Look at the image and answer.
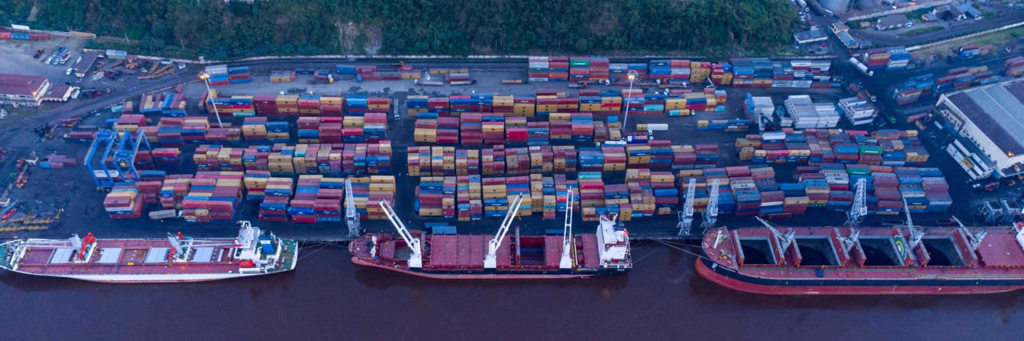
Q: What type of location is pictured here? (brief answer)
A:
port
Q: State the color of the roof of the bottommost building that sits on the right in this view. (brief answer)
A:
blue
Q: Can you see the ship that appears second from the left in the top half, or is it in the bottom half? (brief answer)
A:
bottom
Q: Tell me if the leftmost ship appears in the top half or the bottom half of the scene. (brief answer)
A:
bottom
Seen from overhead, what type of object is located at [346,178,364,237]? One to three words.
container crane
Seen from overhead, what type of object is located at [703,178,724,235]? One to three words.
container crane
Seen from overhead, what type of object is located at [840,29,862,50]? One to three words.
shed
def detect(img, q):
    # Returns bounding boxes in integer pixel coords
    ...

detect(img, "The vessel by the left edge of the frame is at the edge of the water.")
[0,218,297,283]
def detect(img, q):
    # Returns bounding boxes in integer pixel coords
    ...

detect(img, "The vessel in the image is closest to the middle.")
[349,186,637,279]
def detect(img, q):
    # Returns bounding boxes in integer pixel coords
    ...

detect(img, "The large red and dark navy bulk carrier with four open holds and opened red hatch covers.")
[697,197,1024,295]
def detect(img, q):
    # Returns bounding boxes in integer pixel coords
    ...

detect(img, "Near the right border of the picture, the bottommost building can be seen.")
[935,76,1024,179]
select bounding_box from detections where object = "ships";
[349,186,637,279]
[697,197,1024,295]
[0,218,297,283]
